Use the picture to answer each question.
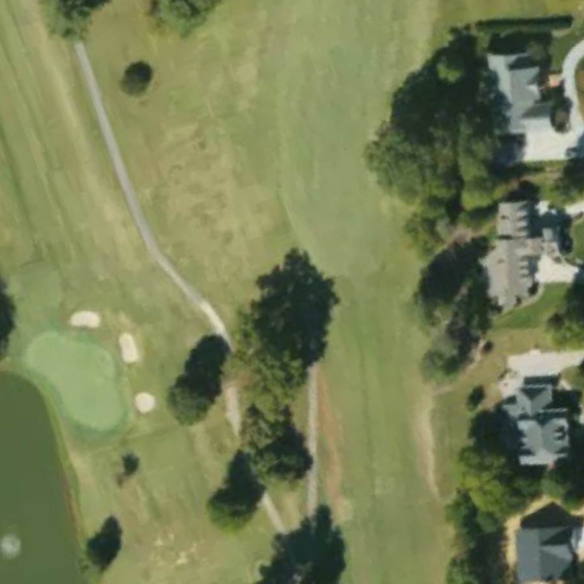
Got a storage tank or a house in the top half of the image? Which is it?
house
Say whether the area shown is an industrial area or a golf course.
golf course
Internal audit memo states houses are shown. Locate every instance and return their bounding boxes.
[486,200,557,313]
[486,54,554,135]
[504,385,572,467]
[516,527,583,584]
